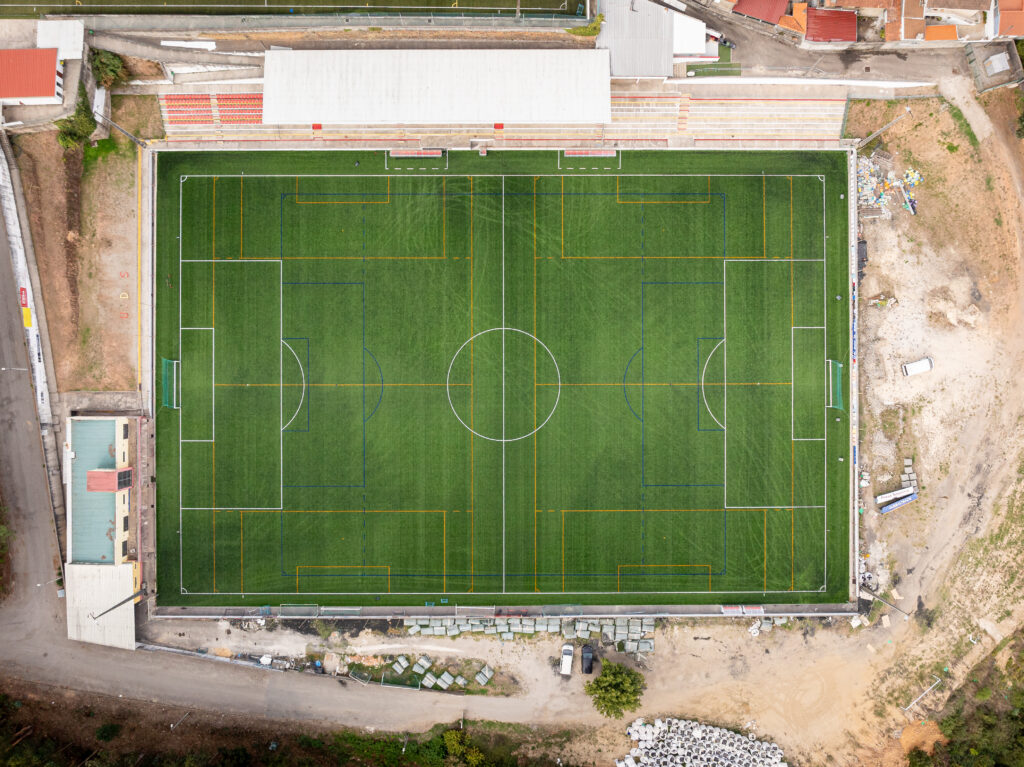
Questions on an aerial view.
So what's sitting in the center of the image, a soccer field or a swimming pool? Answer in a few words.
soccer field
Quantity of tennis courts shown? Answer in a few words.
0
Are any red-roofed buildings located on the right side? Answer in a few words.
Yes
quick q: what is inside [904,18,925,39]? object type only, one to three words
house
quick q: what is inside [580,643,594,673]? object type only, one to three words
car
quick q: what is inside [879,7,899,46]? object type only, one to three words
house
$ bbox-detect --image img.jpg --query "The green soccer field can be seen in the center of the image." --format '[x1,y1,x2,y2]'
[157,151,850,607]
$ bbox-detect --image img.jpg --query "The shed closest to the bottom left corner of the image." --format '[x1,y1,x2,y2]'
[65,559,147,650]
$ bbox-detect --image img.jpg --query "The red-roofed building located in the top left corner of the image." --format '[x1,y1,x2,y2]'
[0,48,68,104]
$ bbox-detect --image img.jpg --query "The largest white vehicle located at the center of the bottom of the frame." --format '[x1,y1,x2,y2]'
[560,642,574,675]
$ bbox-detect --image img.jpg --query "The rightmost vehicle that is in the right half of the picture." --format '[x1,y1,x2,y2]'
[900,358,932,376]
